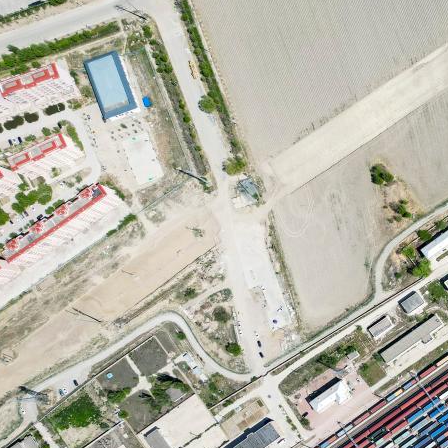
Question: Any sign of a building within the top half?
Yes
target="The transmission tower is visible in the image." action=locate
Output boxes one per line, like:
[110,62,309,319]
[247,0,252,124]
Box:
[18,393,47,408]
